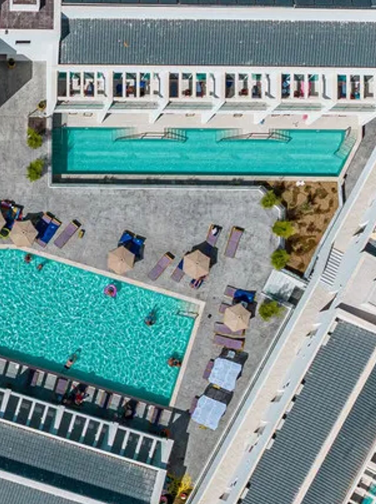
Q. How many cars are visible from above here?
none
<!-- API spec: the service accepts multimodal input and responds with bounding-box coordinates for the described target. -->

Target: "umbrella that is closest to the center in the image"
[181,249,210,280]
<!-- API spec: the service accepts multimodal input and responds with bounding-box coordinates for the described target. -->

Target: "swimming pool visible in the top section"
[47,122,362,181]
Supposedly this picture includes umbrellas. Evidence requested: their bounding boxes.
[205,355,243,393]
[222,303,251,333]
[181,249,210,280]
[190,393,228,431]
[106,246,136,276]
[9,218,37,249]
